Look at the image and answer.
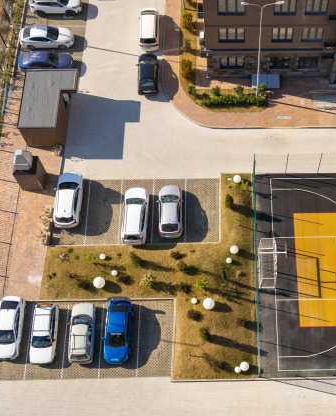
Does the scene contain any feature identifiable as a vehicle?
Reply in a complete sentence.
Yes, you can see a vehicle in this photo.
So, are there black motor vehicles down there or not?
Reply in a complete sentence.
Yes, I can see a black motor vehicle in this picture.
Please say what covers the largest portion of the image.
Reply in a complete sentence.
What you mostly see from above here is paved ground.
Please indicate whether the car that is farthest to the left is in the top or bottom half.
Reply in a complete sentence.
Seen from above, the car that is farthest to the left lies in the bottom half of the view.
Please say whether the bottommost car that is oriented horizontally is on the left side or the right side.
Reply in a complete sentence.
The bottommost car that is oriented horizontally sits on the left side.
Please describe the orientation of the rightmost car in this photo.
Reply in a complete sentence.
I'd say the rightmost car is aligned vertically in the picture.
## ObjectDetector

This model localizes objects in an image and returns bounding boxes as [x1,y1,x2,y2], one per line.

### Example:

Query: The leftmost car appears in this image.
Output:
[0,297,28,359]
